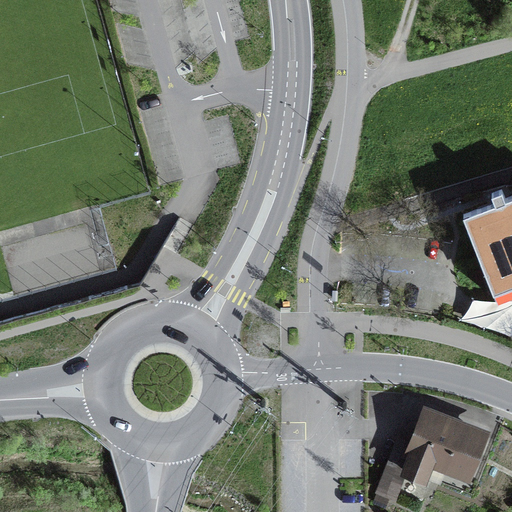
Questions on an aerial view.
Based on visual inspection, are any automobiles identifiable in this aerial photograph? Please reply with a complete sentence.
Yes, an automobile can be made out from above.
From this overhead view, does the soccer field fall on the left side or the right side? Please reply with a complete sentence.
You can find the soccer field on the left side of the picture.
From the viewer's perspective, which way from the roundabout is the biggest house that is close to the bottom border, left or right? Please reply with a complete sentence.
The biggest house that is close to the bottom border is to the right of the roundabout.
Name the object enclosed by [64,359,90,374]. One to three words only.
car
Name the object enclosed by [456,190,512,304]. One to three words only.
building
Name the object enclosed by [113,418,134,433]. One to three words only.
car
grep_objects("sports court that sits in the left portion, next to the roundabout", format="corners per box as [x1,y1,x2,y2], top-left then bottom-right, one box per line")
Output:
[0,207,116,296]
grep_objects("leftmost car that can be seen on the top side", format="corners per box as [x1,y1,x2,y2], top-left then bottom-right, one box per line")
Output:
[138,97,160,109]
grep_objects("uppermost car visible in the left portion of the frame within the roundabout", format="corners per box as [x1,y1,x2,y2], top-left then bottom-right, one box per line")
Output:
[164,326,188,344]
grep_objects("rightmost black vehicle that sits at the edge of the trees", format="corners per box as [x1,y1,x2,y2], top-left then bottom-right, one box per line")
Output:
[406,284,418,308]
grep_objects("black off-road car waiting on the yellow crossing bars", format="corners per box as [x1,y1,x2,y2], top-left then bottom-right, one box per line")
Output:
[194,278,212,302]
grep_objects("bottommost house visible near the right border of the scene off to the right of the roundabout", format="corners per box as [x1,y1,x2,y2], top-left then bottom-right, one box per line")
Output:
[402,406,490,487]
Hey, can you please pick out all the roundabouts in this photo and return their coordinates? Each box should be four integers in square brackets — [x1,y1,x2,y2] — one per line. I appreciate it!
[82,302,244,464]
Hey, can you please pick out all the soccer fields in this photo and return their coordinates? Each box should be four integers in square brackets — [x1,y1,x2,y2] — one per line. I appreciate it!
[0,0,150,231]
